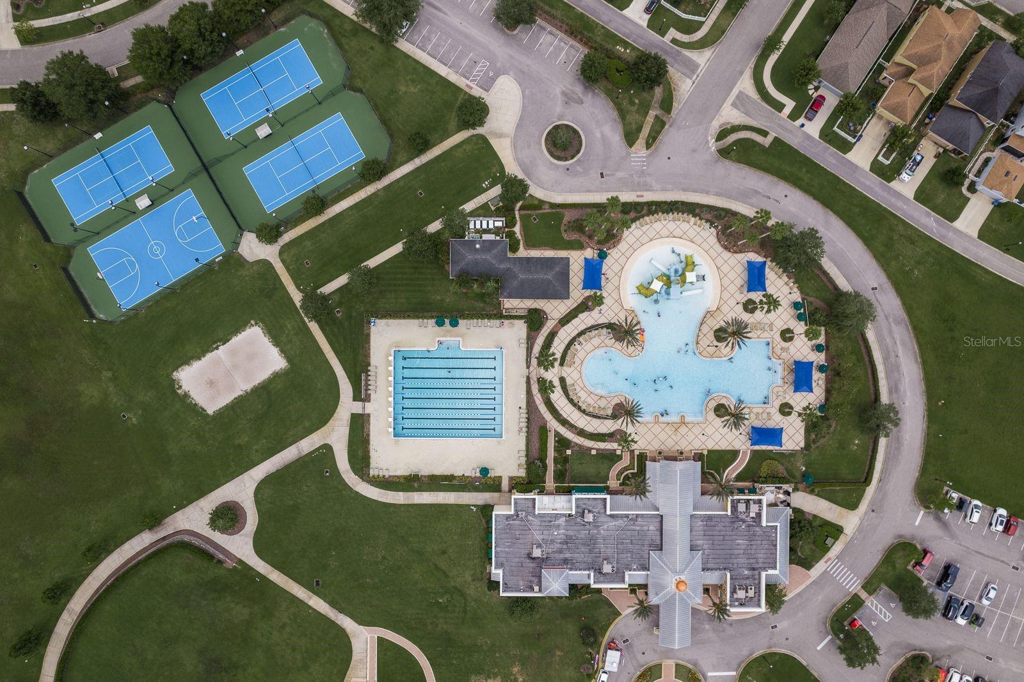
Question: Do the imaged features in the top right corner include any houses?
Yes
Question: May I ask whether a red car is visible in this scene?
Yes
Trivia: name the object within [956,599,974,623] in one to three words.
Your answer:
car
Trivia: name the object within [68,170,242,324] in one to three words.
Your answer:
basketball court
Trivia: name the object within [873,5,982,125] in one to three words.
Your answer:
house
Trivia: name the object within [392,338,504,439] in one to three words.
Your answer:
swimming pool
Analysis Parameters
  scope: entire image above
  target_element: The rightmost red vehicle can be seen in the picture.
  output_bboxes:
[1001,515,1018,537]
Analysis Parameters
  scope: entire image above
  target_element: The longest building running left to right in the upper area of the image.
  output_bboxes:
[450,239,572,299]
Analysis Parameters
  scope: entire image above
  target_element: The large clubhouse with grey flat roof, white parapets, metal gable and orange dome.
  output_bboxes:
[489,459,789,649]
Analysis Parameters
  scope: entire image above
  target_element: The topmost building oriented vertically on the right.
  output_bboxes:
[974,87,1024,201]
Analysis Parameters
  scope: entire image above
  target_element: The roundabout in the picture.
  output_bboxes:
[542,121,586,164]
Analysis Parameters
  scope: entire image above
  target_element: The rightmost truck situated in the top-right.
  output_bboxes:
[899,154,923,182]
